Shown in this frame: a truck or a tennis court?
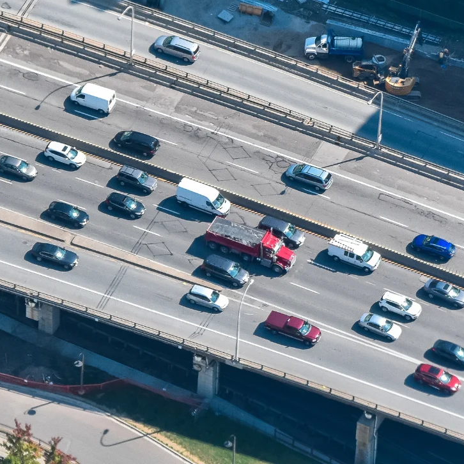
truck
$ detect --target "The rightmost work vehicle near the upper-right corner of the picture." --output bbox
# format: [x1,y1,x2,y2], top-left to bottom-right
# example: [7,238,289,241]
[384,14,430,94]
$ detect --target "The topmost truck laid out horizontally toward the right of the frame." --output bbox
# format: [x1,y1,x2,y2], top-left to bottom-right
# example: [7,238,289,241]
[302,28,363,56]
